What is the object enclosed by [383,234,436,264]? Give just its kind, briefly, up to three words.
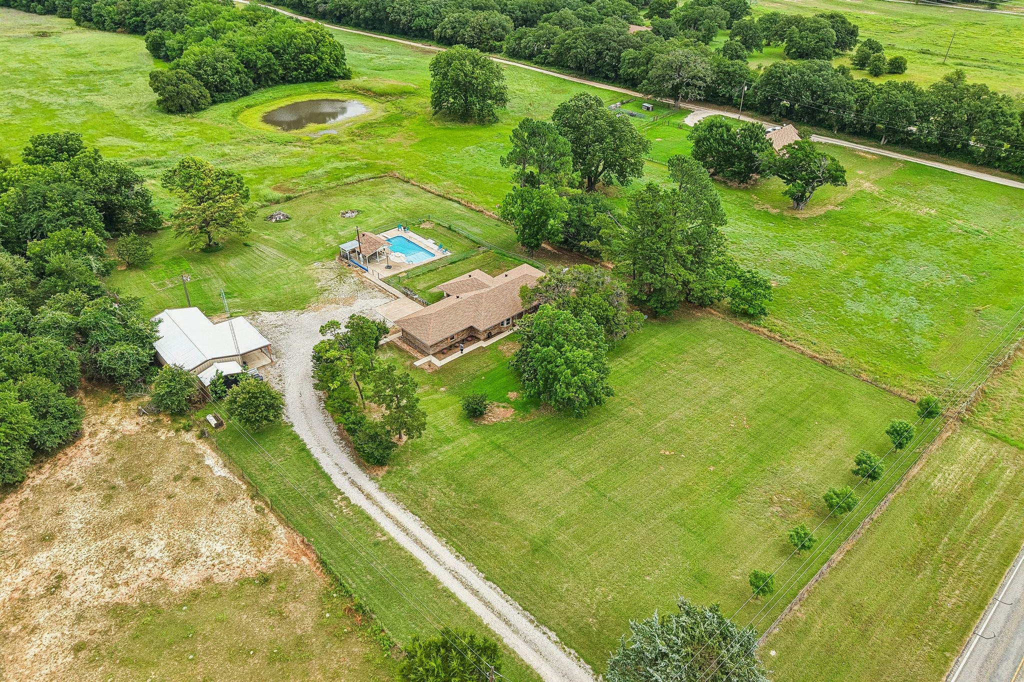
swimming pool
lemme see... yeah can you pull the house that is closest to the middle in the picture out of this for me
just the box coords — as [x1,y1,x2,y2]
[394,263,572,354]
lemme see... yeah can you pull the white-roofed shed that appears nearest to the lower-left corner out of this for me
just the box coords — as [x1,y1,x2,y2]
[155,304,273,400]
